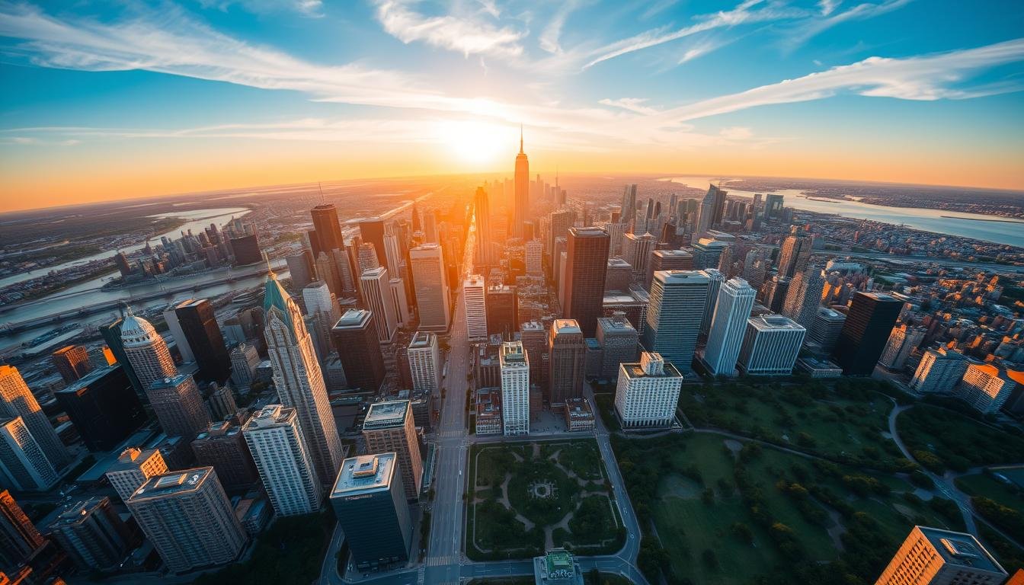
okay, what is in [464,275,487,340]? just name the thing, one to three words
building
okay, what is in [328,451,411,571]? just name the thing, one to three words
building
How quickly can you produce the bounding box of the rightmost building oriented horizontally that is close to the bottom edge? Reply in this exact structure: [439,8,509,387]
[884,526,1009,585]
